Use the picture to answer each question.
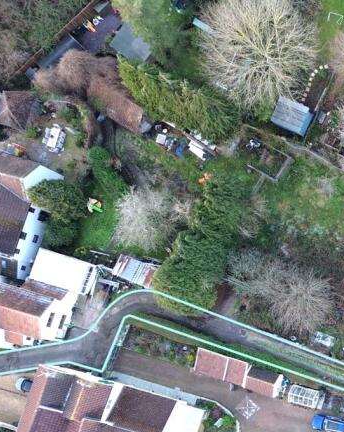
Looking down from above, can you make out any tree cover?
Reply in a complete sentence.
Yes, some tree cover is visible.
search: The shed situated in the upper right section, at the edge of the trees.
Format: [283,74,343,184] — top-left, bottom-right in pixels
[269,96,313,136]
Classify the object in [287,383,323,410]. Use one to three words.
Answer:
greenhouse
